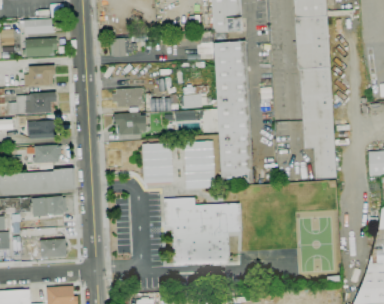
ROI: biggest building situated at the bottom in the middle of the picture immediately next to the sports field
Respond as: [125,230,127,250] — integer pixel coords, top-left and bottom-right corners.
[165,196,240,267]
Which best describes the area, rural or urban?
urban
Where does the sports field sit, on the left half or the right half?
right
